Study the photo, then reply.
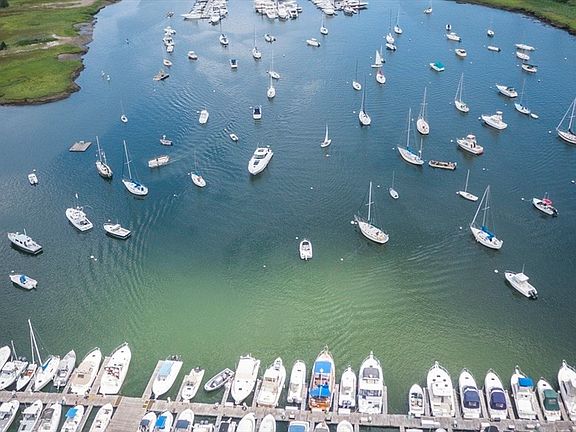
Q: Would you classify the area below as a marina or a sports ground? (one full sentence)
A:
What you see here is a marina.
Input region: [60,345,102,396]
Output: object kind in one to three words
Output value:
boat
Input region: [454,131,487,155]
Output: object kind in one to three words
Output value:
boat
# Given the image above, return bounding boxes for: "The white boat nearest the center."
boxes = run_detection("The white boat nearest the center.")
[298,238,312,260]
